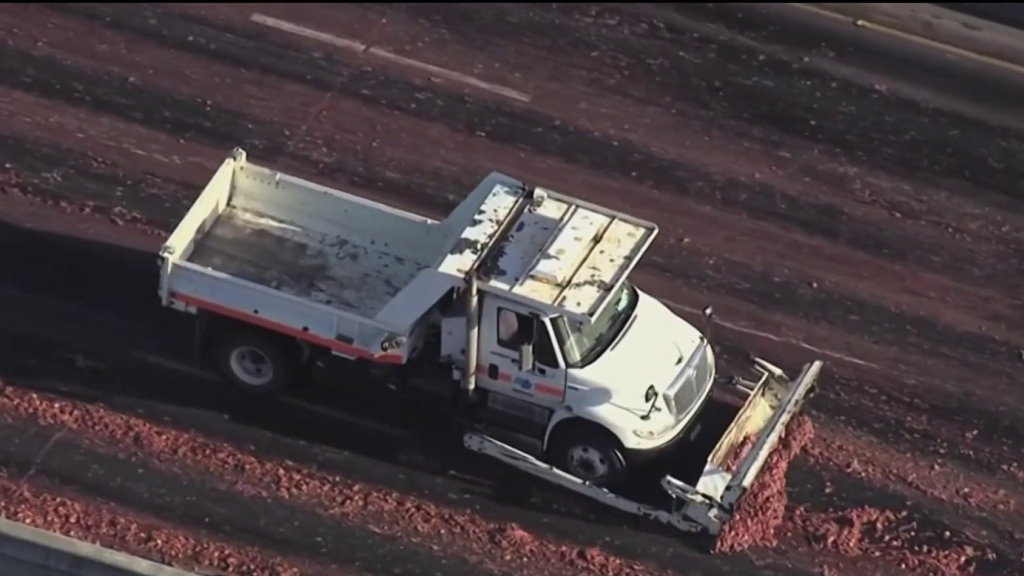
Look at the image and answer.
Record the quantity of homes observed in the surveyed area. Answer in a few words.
zero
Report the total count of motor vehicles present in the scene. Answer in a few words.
1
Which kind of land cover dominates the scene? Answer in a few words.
paved ground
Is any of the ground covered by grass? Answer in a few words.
No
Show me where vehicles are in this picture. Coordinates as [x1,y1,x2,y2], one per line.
[156,146,832,547]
